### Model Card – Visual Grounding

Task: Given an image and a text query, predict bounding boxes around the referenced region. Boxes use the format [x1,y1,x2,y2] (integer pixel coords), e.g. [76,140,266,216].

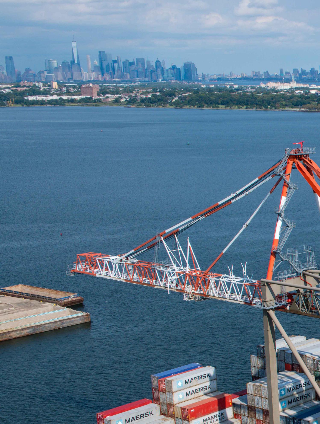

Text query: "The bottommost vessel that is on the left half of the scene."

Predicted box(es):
[0,307,93,341]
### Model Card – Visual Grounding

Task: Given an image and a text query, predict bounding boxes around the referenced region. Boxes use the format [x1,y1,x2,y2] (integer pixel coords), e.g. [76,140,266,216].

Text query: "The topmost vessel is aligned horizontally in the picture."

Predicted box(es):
[0,285,85,307]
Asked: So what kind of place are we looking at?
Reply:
port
